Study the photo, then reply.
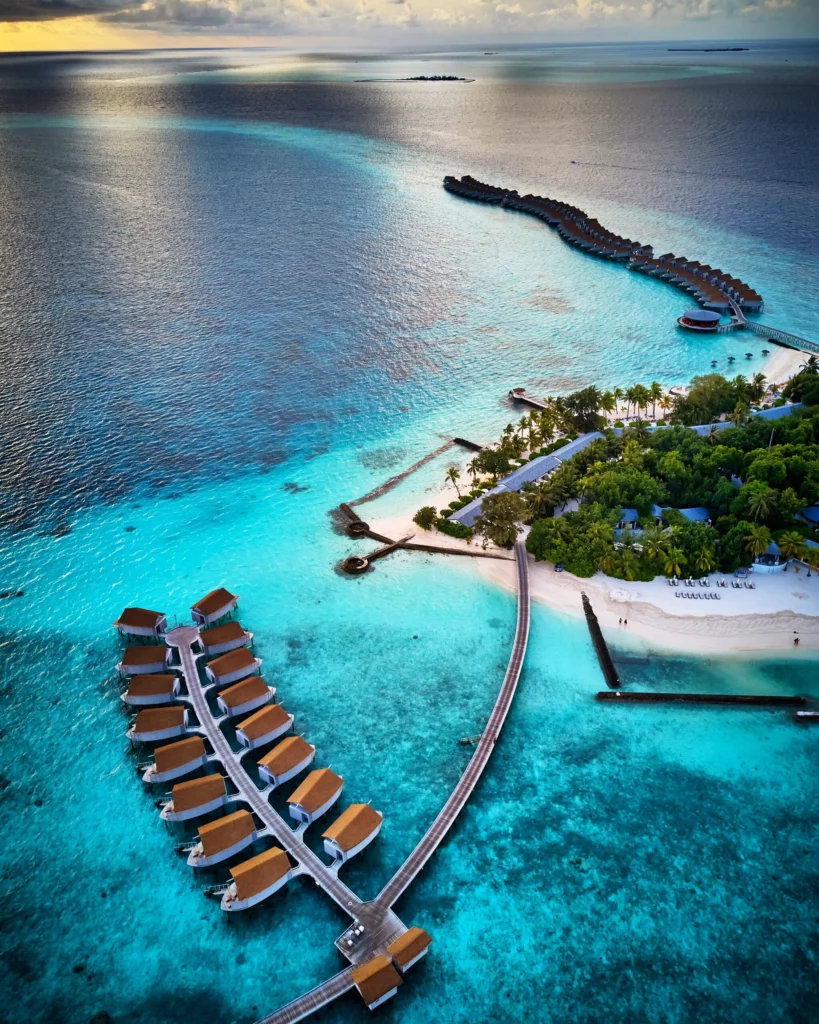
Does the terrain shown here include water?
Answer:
Yes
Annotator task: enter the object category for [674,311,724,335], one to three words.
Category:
building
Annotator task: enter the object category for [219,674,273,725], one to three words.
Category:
house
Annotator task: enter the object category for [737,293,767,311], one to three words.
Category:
house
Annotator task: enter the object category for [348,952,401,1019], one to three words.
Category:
shed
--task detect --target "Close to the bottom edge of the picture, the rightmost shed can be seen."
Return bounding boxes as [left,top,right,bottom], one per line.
[383,925,434,987]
